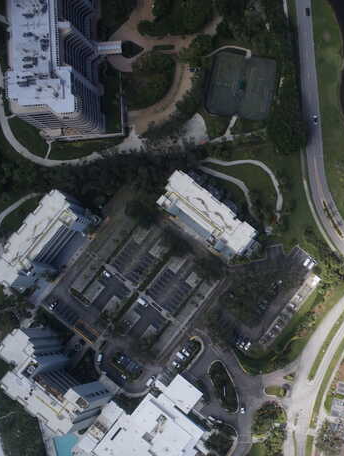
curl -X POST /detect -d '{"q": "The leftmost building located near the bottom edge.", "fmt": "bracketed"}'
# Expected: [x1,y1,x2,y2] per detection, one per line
[0,323,115,435]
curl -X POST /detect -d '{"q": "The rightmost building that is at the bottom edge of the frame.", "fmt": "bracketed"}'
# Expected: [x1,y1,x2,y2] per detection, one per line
[77,371,209,456]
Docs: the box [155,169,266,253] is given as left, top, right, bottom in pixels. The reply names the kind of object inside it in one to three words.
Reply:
building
